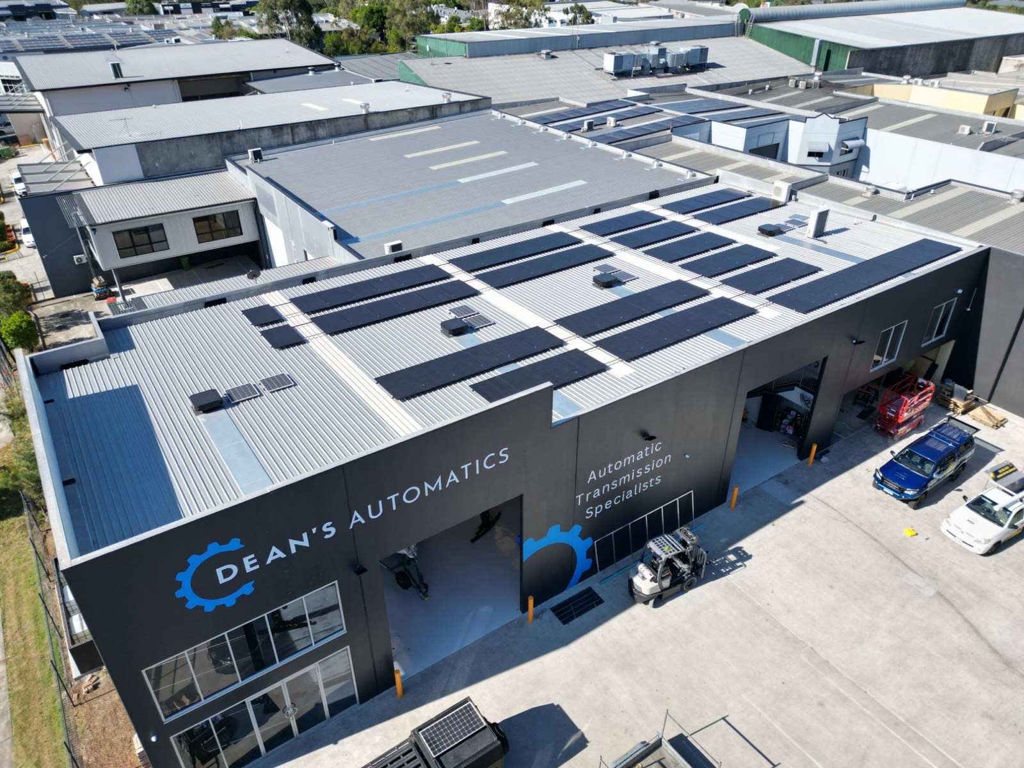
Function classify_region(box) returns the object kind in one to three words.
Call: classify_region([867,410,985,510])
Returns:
truck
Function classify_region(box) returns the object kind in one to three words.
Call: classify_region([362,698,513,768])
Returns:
vehicle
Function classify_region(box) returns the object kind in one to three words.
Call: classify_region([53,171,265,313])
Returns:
building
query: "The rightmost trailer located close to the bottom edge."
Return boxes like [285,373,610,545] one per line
[603,712,718,768]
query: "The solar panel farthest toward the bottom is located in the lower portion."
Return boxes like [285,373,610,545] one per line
[547,583,604,624]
